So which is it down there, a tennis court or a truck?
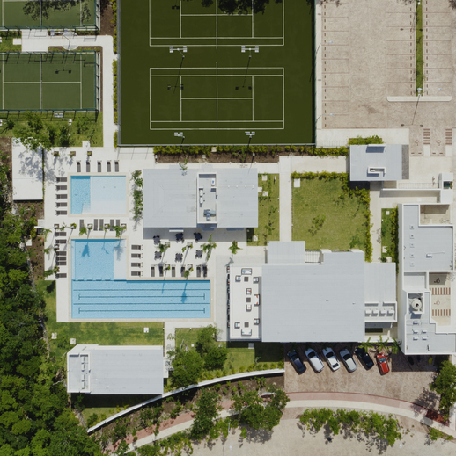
tennis court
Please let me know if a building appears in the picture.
Yes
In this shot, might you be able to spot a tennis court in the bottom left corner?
No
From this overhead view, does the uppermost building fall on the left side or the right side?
right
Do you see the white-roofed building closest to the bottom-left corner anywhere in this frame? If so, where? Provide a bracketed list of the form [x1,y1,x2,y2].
[68,344,169,394]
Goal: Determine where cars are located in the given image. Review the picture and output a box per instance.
[322,348,343,373]
[354,346,378,373]
[377,354,390,376]
[339,349,360,374]
[287,350,308,377]
[304,349,326,374]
